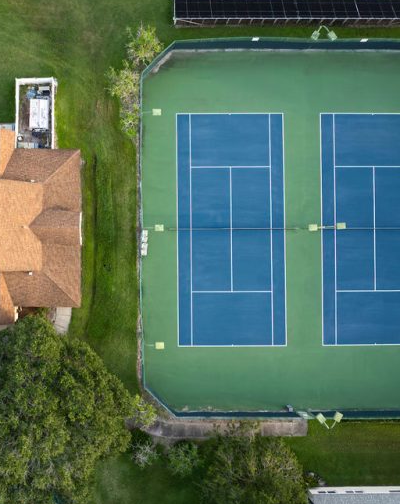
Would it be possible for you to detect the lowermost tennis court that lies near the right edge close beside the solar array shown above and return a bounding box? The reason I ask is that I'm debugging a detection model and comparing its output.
[320,113,400,345]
